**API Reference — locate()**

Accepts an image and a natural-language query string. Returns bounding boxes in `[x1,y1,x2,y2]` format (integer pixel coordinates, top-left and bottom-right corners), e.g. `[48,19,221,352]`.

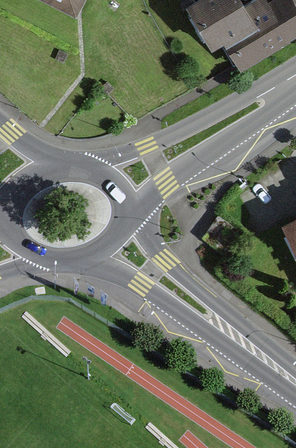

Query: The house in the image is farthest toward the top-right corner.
[183,0,296,72]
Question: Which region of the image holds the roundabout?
left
